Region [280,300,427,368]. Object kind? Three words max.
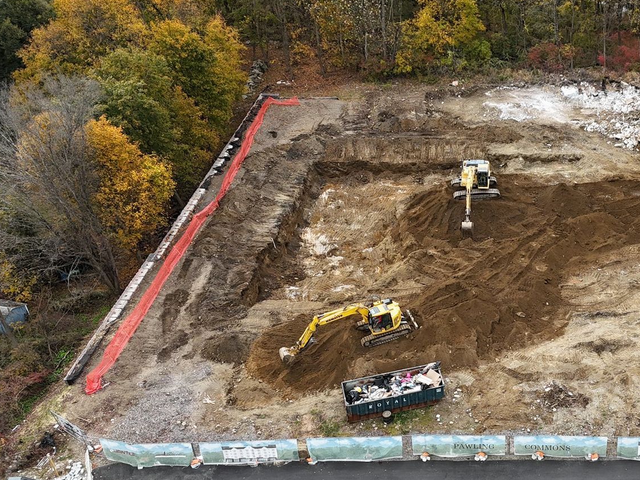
work vehicle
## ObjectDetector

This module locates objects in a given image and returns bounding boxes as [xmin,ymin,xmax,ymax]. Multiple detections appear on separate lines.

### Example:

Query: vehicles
[453,166,496,227]
[280,300,427,368]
